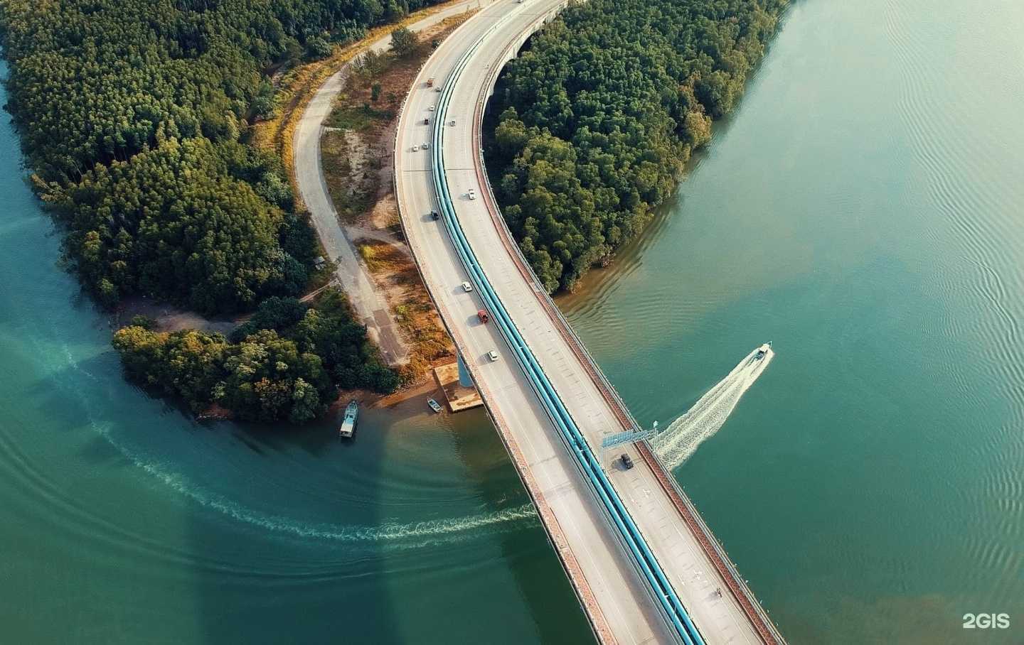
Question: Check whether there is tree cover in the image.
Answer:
Yes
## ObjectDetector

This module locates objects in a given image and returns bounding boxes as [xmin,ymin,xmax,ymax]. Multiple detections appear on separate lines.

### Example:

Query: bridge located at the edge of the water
[393,0,789,645]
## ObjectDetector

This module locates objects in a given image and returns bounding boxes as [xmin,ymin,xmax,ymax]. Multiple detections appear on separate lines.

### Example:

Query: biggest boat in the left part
[338,398,355,436]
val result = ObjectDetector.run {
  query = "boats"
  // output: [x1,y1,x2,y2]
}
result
[756,339,773,359]
[338,398,355,436]
[428,398,443,414]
